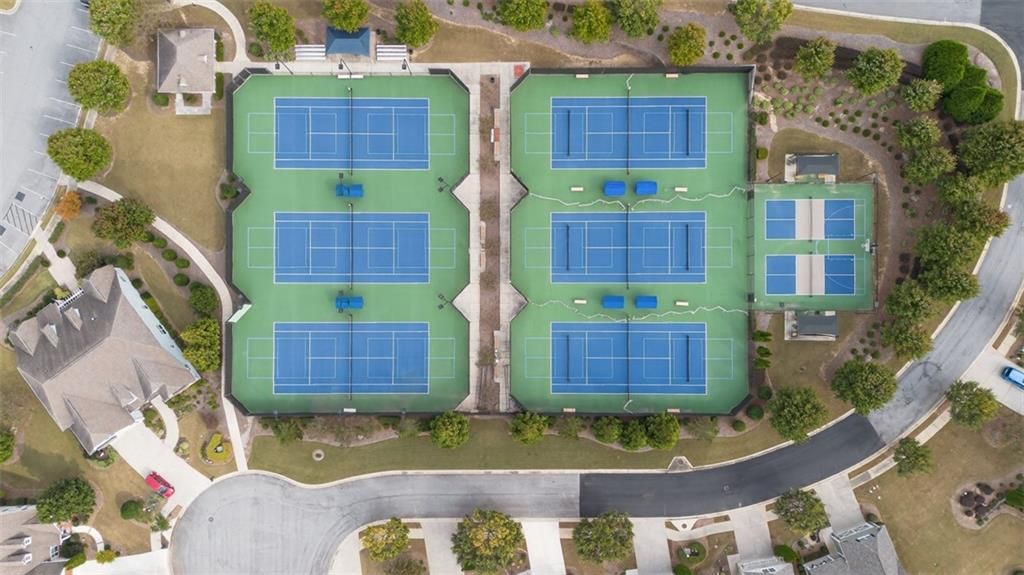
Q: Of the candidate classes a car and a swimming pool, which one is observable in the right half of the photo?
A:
car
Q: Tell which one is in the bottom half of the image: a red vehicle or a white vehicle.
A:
red vehicle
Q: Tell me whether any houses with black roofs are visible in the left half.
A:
No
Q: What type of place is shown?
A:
sports ground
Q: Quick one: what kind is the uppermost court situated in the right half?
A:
tennis court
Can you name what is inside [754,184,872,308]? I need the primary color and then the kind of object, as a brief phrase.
green sports court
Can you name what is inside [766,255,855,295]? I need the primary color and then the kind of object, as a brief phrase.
blue sports court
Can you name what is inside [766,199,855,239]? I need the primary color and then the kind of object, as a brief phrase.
blue sports court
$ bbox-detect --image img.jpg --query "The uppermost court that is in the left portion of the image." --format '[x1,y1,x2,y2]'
[233,75,468,191]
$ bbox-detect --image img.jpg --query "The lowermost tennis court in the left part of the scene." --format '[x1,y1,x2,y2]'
[231,301,468,412]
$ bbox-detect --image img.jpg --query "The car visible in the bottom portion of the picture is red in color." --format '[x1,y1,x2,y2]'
[143,471,176,498]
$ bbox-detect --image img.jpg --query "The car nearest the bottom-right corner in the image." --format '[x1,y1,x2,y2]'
[997,365,1024,387]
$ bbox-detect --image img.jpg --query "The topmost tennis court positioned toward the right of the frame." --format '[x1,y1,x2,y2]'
[511,73,748,191]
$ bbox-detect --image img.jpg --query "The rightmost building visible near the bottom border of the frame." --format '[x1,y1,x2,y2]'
[805,518,908,575]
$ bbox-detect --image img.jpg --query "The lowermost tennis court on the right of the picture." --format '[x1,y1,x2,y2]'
[511,301,748,412]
